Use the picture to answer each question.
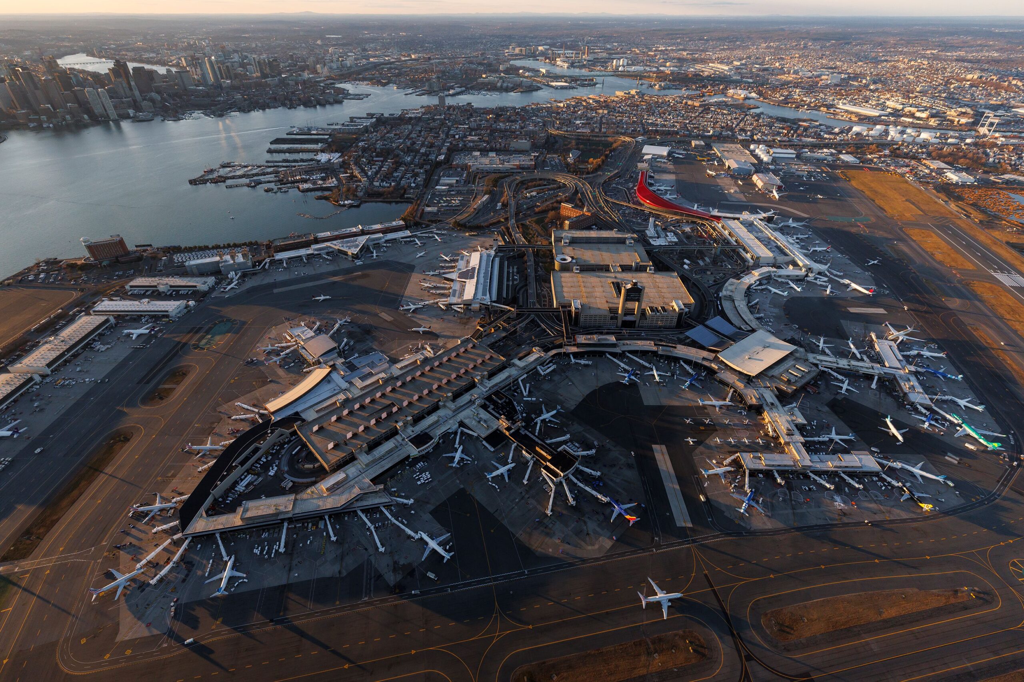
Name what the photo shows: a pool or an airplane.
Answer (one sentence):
I can see an airplane in this picture.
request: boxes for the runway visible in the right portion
[925,221,1024,314]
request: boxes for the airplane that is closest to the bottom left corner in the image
[91,568,146,598]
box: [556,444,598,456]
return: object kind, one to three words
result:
jet bridge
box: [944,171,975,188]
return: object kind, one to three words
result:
shed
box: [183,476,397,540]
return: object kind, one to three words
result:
building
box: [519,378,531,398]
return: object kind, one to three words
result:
jet bridge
